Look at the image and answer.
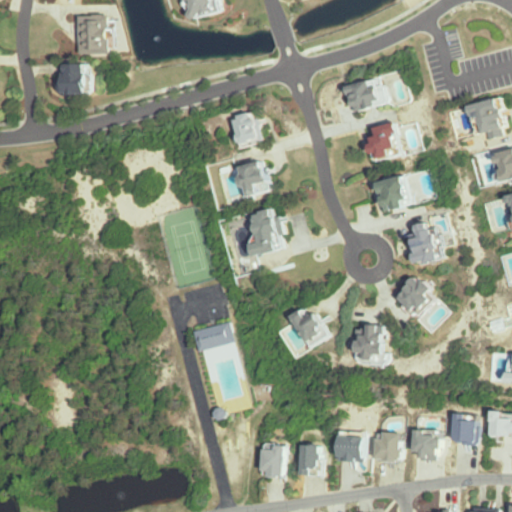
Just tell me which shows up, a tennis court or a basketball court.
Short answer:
tennis court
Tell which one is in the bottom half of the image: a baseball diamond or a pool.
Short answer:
pool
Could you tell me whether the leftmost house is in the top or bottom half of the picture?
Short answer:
top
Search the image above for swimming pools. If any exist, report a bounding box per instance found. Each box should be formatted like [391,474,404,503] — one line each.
[450,110,472,138]
[382,416,406,432]
[418,299,452,334]
[406,172,436,208]
[400,122,422,154]
[500,253,512,286]
[430,213,455,259]
[200,323,254,414]
[418,417,446,432]
[280,324,310,359]
[220,166,242,204]
[474,152,512,188]
[382,72,413,106]
[492,352,509,383]
[485,200,512,234]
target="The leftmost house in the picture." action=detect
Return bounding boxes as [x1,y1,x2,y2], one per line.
[54,62,94,95]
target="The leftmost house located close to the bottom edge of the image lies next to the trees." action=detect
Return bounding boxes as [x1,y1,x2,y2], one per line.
[259,443,290,486]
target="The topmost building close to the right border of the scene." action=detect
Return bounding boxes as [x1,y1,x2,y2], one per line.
[464,96,511,140]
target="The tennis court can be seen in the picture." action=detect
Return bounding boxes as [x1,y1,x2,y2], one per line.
[164,208,210,288]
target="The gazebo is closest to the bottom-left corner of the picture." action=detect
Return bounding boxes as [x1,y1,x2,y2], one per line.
[212,405,228,422]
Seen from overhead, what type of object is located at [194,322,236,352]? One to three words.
building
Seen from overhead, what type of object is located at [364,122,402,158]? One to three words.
house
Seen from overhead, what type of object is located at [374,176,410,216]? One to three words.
house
